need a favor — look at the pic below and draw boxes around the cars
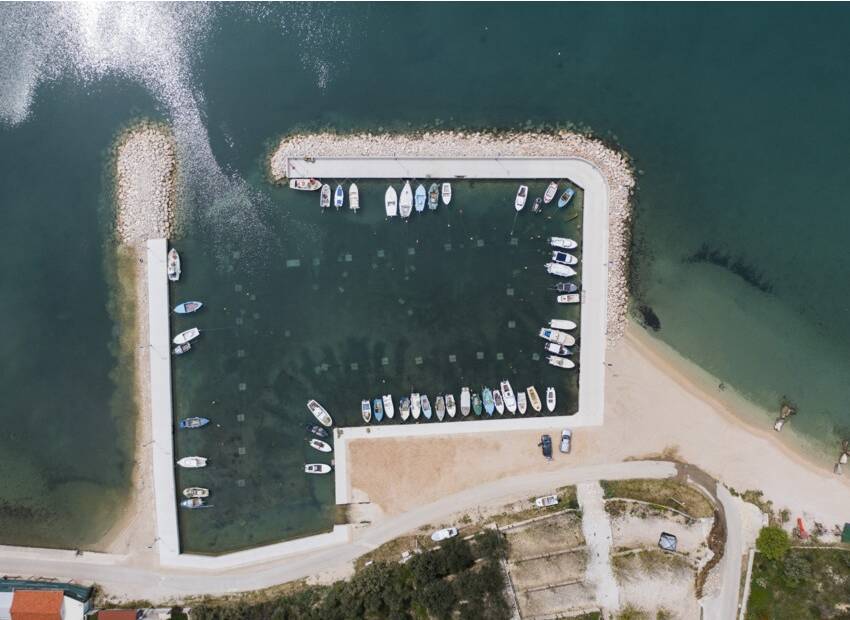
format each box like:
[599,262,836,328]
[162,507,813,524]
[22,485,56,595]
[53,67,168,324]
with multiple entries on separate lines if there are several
[535,435,552,457]
[559,430,573,453]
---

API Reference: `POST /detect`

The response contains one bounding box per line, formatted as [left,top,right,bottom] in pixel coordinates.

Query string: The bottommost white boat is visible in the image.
[432,526,460,539]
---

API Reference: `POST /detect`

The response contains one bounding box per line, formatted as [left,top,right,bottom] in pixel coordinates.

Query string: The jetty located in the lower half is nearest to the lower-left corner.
[148,239,351,569]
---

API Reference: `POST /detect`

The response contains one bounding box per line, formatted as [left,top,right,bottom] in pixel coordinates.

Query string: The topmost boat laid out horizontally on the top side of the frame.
[290,178,326,191]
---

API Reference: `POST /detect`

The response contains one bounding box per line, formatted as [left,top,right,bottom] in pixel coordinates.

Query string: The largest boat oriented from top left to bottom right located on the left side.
[306,399,332,427]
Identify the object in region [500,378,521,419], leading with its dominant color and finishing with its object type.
white boat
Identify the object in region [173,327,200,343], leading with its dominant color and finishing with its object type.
white boat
